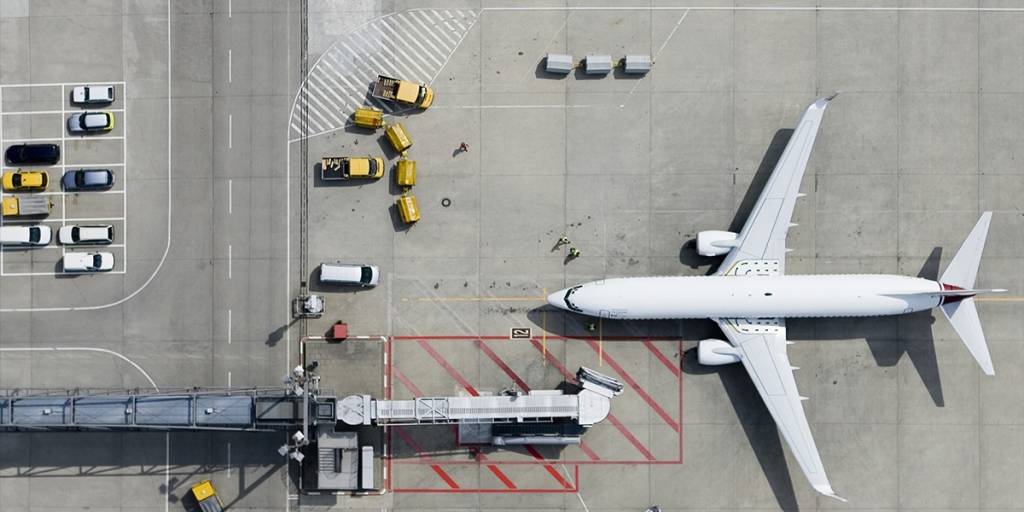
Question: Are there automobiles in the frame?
Yes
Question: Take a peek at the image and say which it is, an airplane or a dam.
airplane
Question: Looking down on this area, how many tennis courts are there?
0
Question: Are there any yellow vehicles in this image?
Yes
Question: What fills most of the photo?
paved ground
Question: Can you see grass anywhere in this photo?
No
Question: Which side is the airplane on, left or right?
right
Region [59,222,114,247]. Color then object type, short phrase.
white car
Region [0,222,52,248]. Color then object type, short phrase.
white vehicle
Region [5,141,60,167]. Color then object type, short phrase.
black car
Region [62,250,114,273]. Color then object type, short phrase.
white vehicle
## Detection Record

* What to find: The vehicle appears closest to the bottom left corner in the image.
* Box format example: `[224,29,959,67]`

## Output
[192,479,226,512]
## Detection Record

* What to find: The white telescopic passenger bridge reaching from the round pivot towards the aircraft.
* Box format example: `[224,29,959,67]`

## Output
[338,368,622,446]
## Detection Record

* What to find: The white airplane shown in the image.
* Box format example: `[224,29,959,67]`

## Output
[546,91,1005,500]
